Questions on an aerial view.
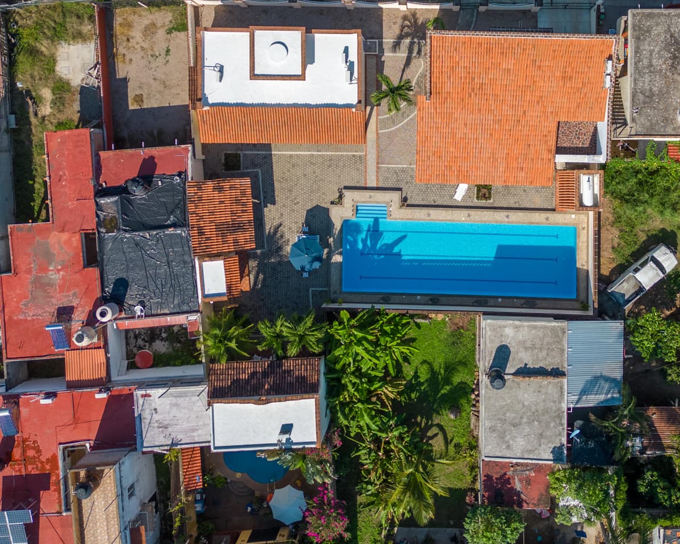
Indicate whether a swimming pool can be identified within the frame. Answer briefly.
Yes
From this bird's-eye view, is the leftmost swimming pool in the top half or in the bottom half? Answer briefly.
bottom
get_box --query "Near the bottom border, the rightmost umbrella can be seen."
[269,481,308,520]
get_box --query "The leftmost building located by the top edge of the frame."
[196,26,378,146]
